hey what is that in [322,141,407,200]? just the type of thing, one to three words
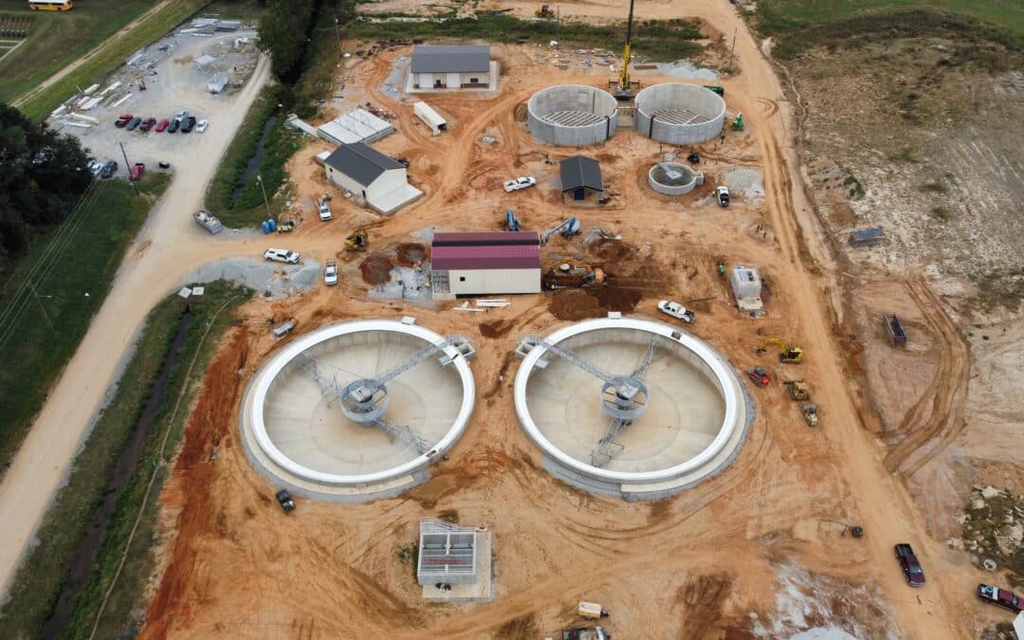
building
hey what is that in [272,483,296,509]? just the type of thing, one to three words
vehicle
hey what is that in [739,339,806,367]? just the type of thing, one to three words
work vehicle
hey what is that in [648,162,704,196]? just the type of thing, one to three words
storage tank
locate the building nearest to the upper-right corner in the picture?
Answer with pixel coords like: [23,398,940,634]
[731,262,761,300]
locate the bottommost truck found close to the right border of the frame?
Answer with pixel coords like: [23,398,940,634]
[971,578,1024,614]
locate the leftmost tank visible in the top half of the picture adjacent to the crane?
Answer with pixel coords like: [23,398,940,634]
[528,84,617,146]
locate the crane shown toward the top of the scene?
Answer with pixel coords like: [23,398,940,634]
[604,0,639,107]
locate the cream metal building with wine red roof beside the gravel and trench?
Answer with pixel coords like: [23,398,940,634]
[429,231,545,300]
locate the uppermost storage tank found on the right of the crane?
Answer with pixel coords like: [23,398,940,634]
[633,83,726,145]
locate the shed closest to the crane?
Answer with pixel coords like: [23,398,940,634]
[560,153,604,209]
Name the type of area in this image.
industrial area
